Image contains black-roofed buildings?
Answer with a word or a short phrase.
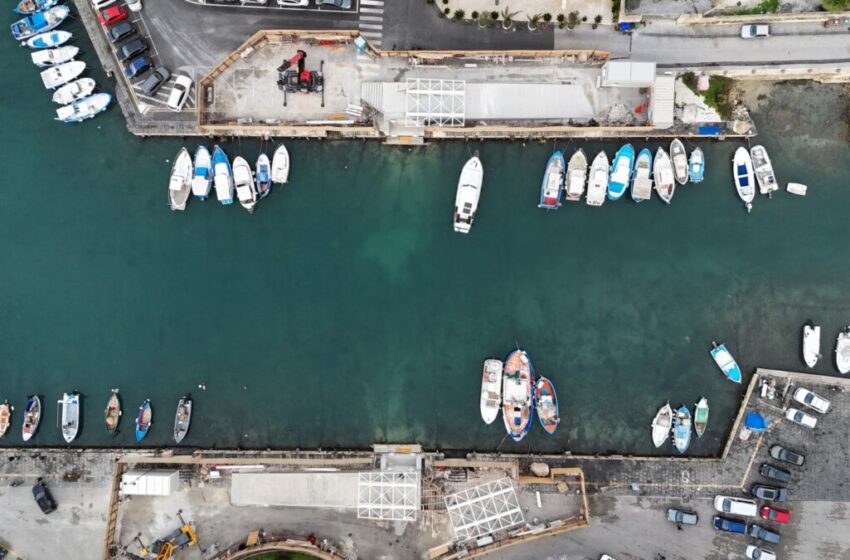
No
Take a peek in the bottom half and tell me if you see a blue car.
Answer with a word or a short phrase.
Yes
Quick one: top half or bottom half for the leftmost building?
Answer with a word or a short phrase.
bottom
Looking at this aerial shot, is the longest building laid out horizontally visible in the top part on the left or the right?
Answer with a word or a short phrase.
right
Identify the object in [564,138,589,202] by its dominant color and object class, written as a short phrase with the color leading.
white boat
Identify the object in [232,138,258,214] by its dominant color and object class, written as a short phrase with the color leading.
white boat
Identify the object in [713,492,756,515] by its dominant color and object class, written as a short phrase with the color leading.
white vehicle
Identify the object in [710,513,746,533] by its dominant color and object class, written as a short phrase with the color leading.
blue car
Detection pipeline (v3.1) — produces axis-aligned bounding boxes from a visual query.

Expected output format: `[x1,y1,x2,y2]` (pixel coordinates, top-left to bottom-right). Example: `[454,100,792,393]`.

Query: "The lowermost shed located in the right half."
[648,75,676,129]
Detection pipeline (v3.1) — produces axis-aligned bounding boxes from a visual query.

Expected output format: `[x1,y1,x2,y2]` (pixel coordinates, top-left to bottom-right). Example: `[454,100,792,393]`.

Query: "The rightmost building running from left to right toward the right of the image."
[603,62,657,86]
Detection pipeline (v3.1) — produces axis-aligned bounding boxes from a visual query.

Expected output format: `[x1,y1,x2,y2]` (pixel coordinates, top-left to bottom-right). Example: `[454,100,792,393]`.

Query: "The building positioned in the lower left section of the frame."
[122,470,178,495]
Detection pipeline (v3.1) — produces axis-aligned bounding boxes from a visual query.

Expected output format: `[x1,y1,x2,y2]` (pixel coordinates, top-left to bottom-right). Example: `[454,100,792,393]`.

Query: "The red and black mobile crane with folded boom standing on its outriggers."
[276,50,325,109]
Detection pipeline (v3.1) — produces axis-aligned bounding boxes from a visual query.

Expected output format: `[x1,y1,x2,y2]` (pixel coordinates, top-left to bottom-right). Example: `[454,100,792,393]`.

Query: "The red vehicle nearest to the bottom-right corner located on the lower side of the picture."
[757,504,789,522]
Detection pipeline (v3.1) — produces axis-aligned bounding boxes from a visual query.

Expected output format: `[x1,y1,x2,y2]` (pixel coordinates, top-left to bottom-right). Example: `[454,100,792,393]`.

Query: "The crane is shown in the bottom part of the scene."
[125,509,208,560]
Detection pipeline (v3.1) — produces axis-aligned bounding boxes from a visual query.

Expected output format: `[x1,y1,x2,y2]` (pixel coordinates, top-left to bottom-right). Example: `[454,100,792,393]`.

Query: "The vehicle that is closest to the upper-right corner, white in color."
[739,24,769,40]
